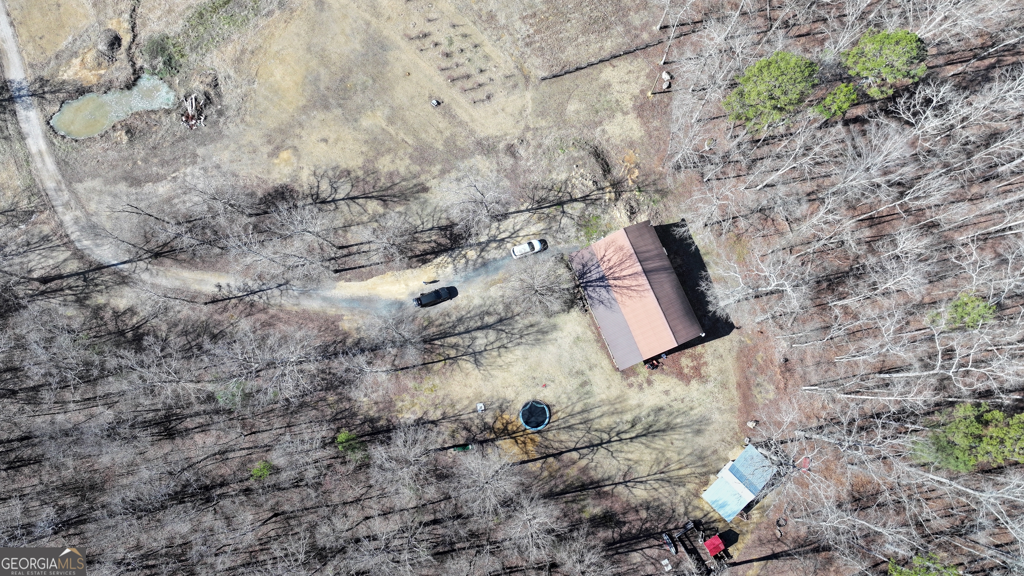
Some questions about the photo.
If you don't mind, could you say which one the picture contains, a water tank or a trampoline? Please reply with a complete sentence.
I can see a trampoline in this picture.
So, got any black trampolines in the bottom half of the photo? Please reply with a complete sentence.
Yes, I can see a black trampoline in the bottom half of the photo.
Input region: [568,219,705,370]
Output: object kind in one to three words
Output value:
house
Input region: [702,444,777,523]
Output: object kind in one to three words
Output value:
shed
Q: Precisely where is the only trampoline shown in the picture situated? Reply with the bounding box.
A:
[520,399,550,430]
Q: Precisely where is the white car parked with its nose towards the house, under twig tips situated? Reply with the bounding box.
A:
[509,239,542,259]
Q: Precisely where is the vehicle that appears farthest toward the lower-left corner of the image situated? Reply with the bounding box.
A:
[410,287,451,309]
